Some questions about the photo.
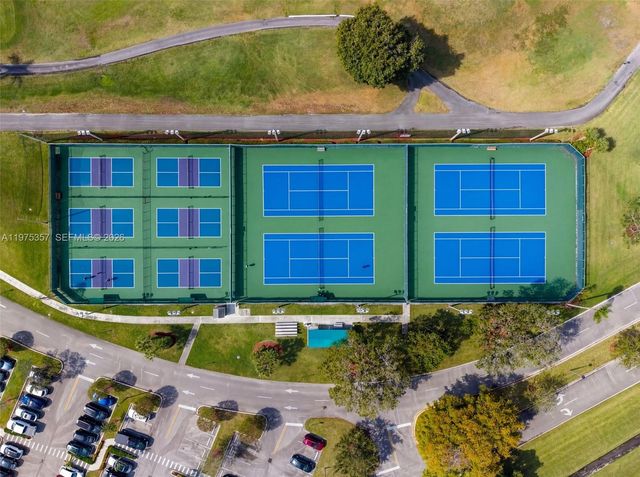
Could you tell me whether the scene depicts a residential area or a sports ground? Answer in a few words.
sports ground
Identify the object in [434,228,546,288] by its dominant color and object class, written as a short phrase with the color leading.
blue tennis court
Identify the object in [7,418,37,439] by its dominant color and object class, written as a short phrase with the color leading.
white vehicle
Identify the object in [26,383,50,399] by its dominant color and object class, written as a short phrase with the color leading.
white car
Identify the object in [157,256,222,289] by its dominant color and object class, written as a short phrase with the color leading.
blue sports court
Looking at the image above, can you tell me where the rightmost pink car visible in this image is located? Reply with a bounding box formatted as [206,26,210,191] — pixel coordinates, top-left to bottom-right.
[304,433,325,449]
